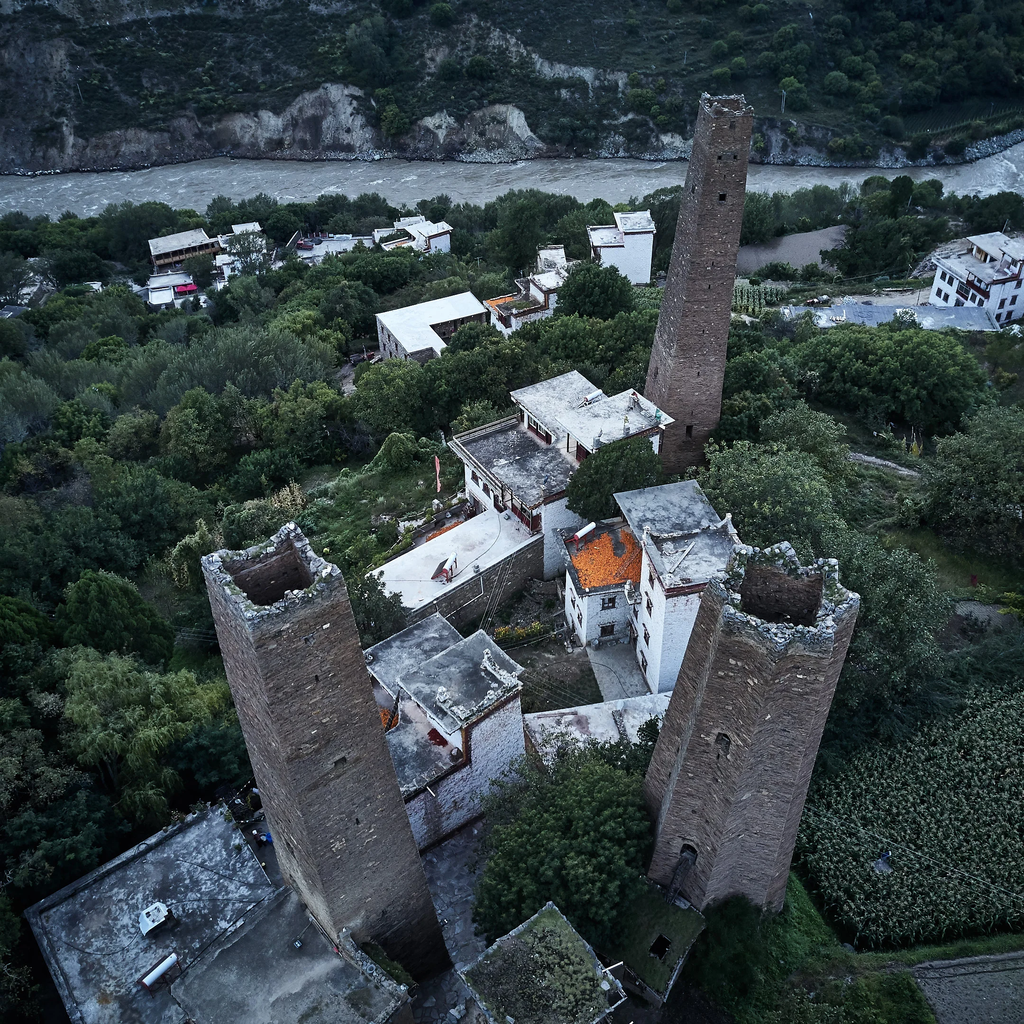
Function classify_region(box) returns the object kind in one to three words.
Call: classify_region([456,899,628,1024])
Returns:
house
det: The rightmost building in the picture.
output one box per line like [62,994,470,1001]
[928,219,1024,325]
